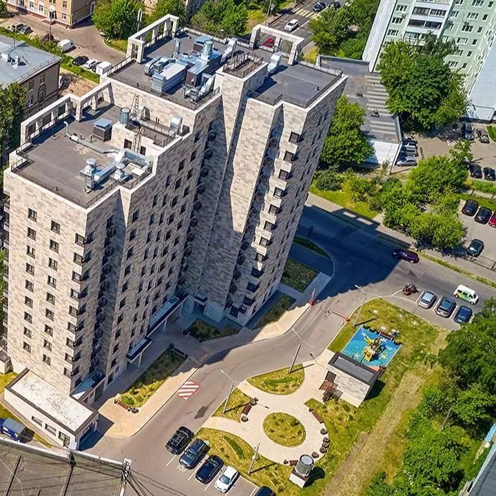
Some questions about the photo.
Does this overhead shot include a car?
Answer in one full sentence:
Yes, looking at the shot, I can spot a car.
